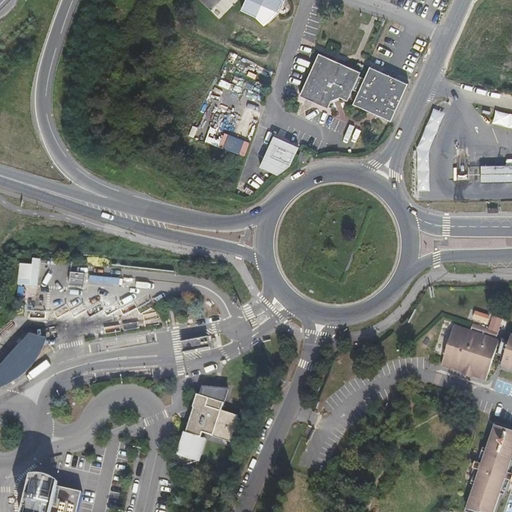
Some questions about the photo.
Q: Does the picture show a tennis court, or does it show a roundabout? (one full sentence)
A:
Of the two, only a roundabout appears.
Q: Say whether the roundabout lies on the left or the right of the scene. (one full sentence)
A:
The roundabout sits on the right side.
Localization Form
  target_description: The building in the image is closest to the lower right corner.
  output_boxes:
[464,424,512,512]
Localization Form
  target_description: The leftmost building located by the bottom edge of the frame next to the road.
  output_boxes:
[18,468,60,512]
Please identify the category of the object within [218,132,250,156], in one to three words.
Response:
shed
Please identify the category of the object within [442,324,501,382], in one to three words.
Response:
house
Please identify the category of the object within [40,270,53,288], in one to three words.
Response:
vehicle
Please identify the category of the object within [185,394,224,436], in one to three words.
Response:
building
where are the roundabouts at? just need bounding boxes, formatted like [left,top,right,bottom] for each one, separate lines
[254,164,418,324]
